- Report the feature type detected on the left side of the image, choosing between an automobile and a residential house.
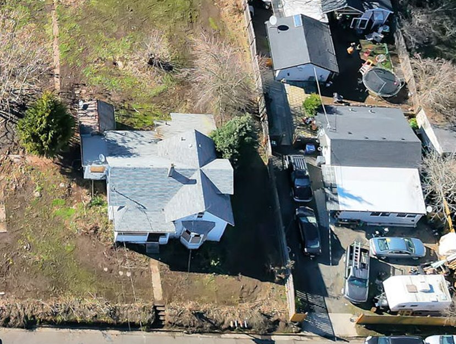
residential house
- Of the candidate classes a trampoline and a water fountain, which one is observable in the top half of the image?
trampoline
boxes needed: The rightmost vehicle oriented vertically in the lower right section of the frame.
[343,237,372,309]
